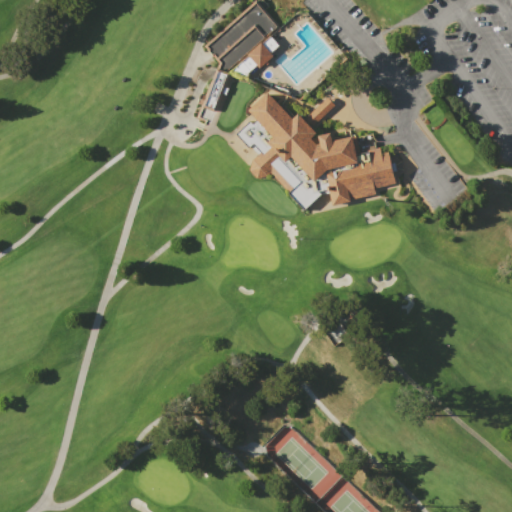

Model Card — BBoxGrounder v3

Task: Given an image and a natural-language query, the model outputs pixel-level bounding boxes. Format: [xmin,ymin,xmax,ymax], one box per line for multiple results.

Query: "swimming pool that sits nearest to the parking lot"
[259,14,340,96]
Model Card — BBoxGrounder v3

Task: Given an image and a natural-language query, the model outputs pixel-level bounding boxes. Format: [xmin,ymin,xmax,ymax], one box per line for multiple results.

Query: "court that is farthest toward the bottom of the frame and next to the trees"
[318,478,376,512]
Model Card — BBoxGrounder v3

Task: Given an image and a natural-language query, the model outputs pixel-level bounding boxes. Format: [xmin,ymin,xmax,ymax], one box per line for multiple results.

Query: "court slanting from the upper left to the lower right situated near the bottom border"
[264,424,341,502]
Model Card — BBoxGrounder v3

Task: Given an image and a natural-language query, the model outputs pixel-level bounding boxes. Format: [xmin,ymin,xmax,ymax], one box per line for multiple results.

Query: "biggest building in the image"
[238,92,398,210]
